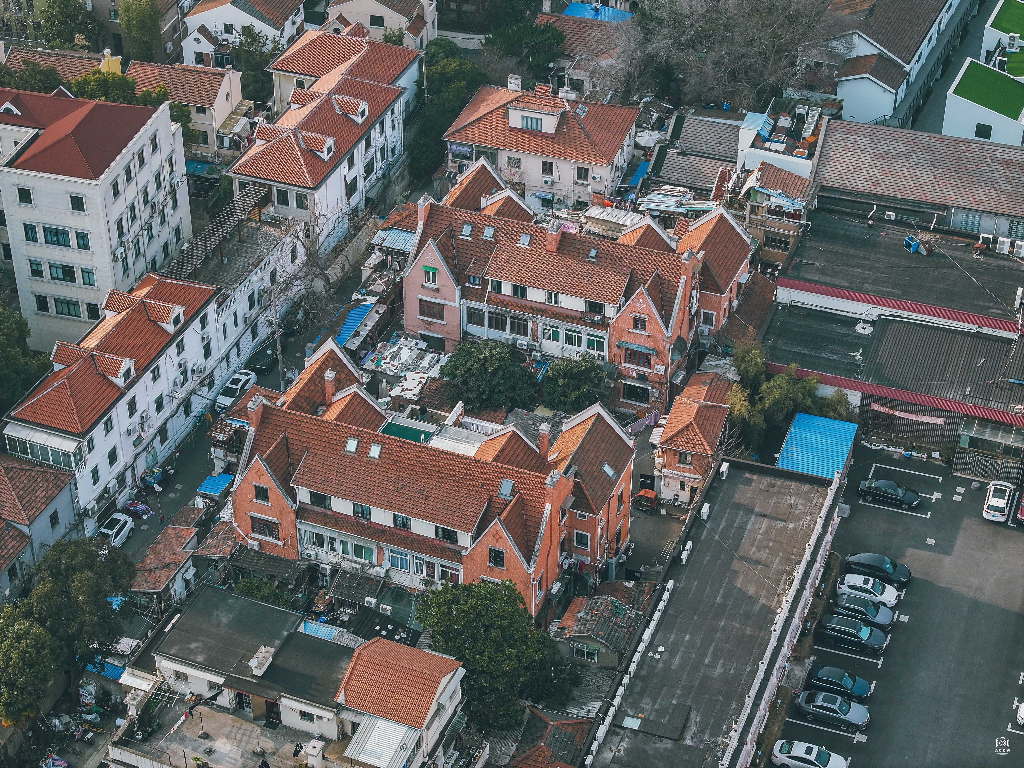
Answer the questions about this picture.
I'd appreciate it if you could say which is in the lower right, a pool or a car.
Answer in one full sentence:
Visible in the lower right is a car.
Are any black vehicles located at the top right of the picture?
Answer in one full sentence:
No, at the top right of the picture there is no black vehicle.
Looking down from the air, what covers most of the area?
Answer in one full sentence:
For the most part, this view shows buildings.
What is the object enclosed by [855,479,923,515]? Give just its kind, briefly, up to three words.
car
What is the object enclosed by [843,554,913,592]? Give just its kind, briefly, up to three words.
car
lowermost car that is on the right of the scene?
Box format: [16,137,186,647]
[769,734,849,768]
